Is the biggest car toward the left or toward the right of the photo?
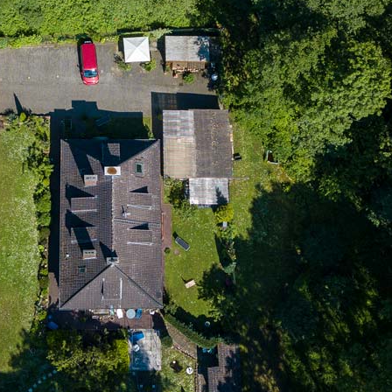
left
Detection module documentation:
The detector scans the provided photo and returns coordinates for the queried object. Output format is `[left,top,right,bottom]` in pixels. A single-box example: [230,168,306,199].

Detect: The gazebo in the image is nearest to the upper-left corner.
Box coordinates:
[124,36,150,62]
